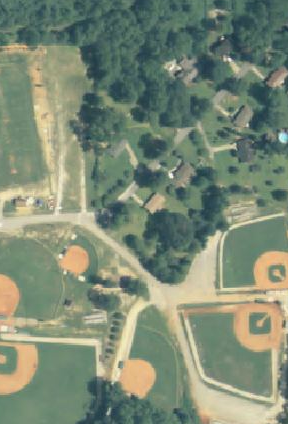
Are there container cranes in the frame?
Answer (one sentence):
No, the frame has no container crane in it.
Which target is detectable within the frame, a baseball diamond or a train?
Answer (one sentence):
This aerial view contains a baseball diamond.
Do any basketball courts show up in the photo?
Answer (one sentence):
No, there appears to be no basketball court in this shot.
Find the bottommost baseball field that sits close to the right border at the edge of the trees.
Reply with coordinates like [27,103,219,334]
[182,303,283,403]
